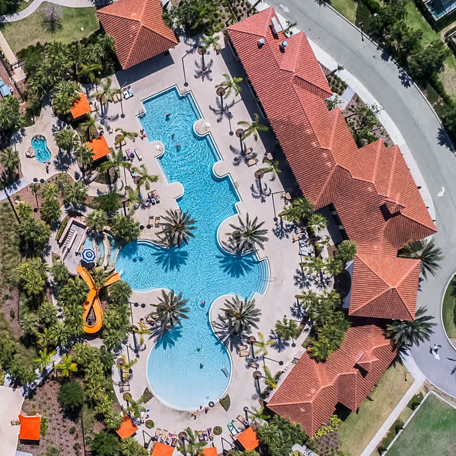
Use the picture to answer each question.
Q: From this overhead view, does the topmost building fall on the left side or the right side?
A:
left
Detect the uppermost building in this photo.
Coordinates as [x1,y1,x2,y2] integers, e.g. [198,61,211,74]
[96,0,179,71]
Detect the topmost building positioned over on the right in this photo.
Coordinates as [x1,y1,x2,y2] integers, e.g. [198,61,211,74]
[227,5,438,274]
